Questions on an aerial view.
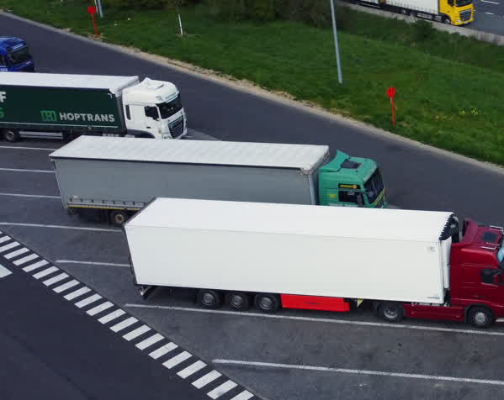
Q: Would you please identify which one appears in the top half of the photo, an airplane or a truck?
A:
truck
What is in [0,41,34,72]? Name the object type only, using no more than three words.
truck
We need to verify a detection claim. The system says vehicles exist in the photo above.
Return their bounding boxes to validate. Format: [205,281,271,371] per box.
[49,138,384,229]
[0,71,183,144]
[0,41,34,72]
[122,197,504,325]
[345,0,472,24]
